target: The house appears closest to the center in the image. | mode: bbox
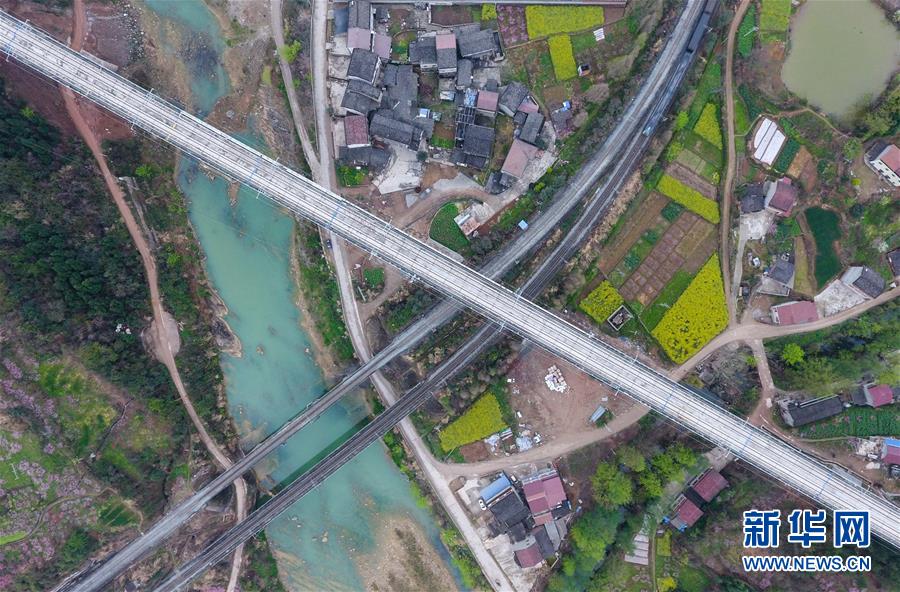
[454,206,481,235]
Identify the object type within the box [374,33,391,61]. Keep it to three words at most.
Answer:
shed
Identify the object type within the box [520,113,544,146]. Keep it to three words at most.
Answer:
house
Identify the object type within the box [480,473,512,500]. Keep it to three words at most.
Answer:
building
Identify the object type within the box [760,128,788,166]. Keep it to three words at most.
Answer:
greenhouse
